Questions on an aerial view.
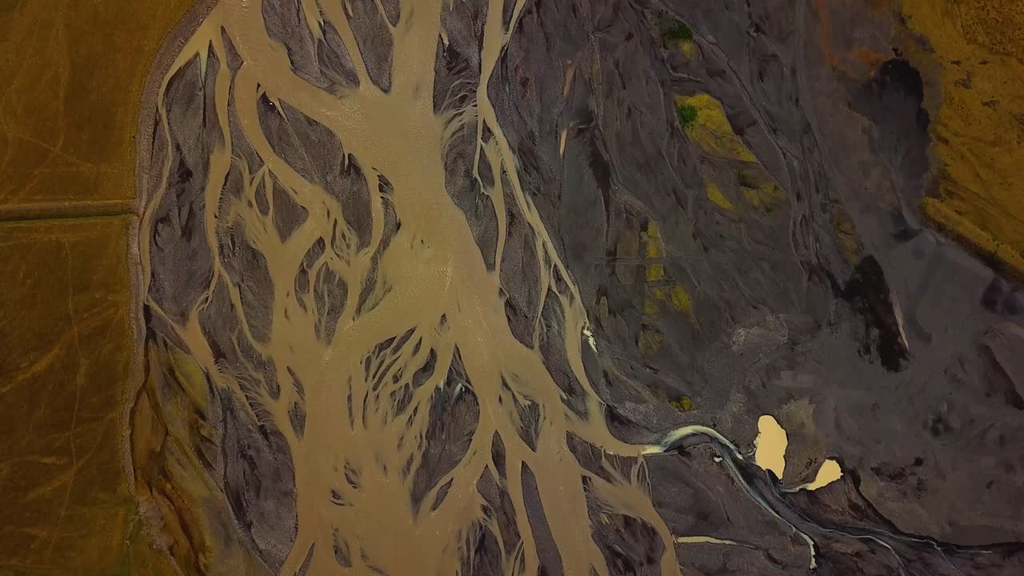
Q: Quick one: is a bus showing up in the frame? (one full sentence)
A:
No, I can't see a single bus in this photo.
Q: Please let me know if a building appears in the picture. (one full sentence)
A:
No, there isn't any building down there.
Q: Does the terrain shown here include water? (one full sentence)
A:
Yes, there is water in the image.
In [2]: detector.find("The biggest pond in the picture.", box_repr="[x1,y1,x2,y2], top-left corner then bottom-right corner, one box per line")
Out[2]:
[754,414,789,480]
